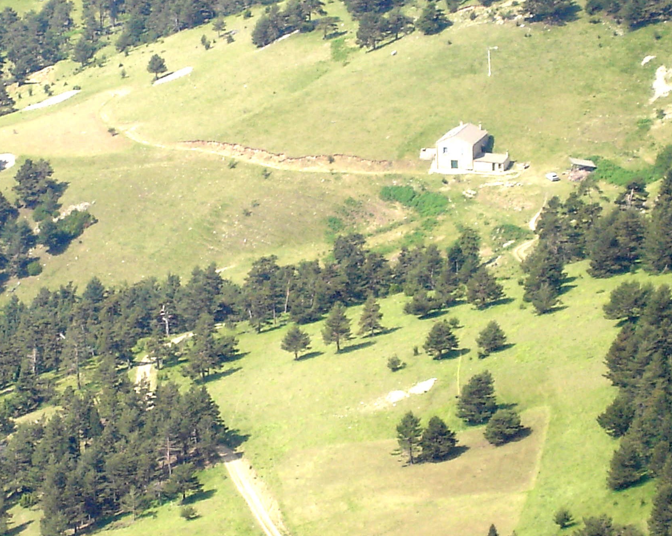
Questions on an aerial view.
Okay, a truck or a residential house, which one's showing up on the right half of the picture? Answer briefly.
residential house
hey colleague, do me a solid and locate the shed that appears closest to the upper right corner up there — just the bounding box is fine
[572,156,604,176]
